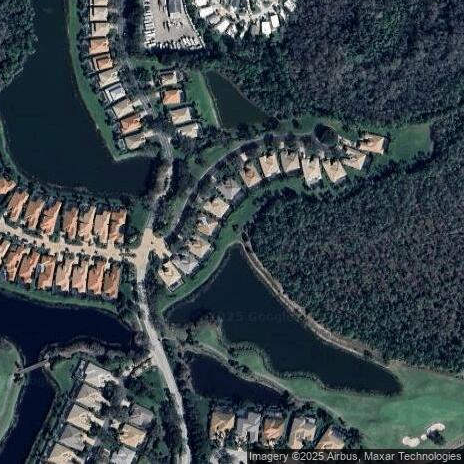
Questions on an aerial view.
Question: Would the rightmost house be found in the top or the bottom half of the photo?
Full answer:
The rightmost house sits in the top half of the picture.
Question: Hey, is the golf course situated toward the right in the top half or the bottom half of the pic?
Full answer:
Seen from above, the golf course situated toward the right lies in the bottom half of the view.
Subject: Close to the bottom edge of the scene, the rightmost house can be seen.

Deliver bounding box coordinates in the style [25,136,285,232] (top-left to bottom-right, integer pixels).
[313,422,349,456]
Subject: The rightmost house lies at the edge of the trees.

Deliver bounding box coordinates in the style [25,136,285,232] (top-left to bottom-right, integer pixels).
[361,133,389,152]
